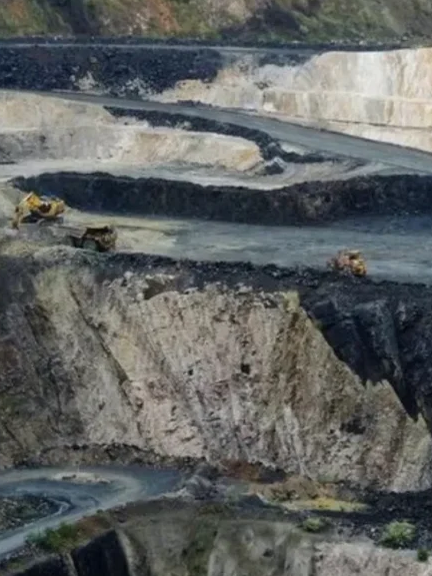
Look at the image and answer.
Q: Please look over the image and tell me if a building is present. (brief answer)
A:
No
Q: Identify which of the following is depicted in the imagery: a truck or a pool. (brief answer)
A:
truck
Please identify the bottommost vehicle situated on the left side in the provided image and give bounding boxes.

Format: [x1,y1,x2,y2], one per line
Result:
[68,223,116,255]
